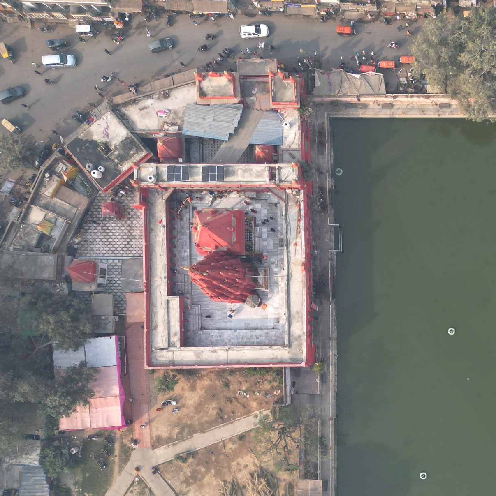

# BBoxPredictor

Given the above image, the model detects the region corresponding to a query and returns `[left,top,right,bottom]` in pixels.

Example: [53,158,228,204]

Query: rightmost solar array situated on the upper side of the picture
[201,165,224,182]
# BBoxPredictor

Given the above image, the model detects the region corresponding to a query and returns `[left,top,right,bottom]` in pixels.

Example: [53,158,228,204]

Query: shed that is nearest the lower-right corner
[297,477,325,496]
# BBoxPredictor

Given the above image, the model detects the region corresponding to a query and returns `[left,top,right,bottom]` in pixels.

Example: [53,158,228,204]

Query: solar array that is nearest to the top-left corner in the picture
[166,165,189,182]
